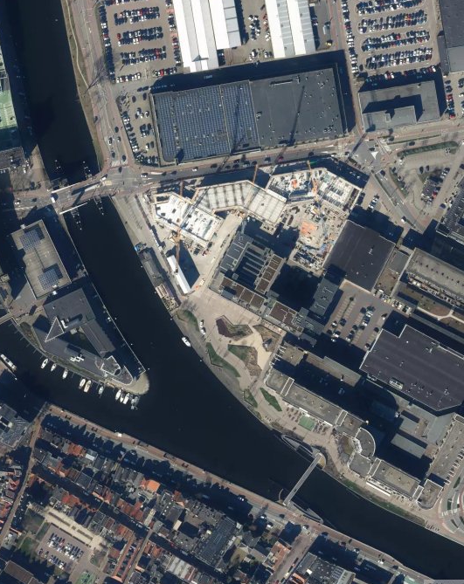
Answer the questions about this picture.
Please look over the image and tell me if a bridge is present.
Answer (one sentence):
Yes, a bridge can be made out from above.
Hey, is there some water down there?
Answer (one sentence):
Yes, there's water in this view.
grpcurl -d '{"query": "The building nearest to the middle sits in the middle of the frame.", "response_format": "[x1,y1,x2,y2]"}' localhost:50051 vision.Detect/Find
[209,273,266,318]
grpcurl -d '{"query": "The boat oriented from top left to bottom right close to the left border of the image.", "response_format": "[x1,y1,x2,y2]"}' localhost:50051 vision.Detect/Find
[0,353,17,371]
